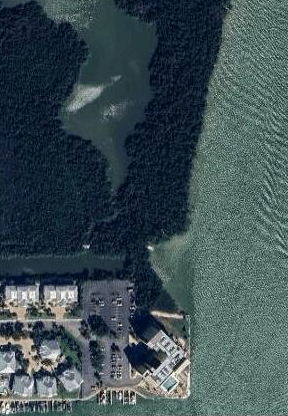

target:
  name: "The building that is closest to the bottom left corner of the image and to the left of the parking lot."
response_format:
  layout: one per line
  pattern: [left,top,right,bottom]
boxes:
[10,373,33,395]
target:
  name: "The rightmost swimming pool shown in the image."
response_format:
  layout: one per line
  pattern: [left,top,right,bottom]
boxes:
[158,372,181,395]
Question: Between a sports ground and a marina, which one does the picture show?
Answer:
marina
